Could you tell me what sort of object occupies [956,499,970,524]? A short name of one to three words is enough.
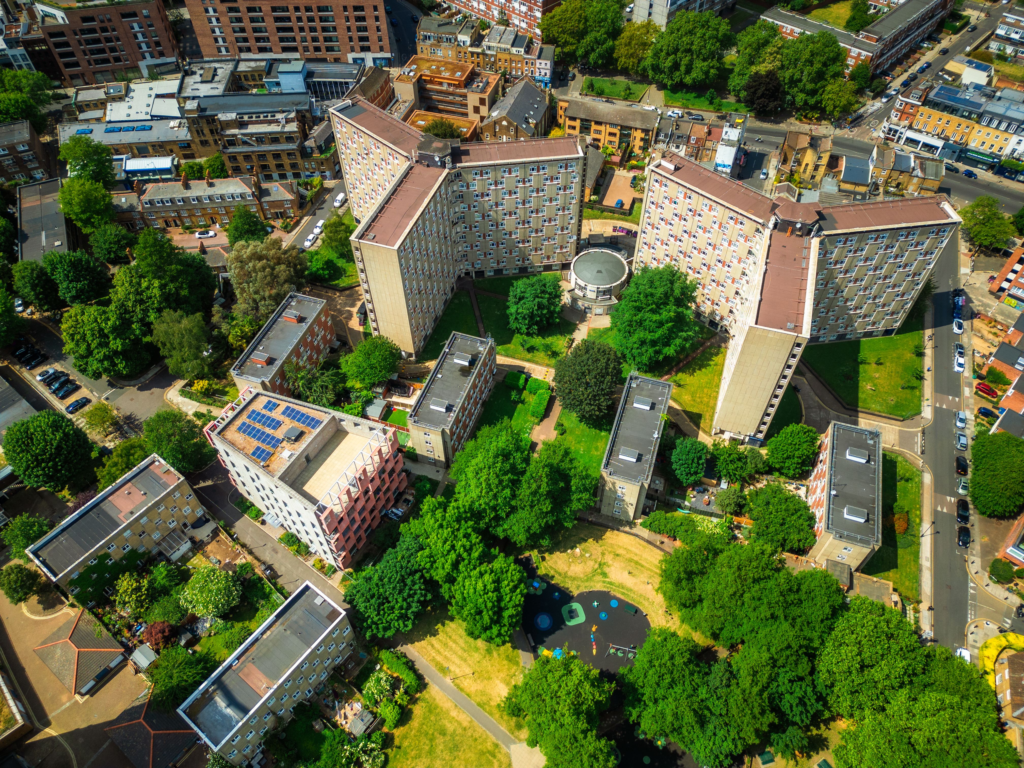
car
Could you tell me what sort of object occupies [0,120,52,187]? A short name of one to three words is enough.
building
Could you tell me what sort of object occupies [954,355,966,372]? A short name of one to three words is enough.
vehicle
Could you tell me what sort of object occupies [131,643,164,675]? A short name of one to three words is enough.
shed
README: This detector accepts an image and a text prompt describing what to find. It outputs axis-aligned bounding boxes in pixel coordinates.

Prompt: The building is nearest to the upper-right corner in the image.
[986,8,1024,59]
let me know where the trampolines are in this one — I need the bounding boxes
[390,379,410,398]
[567,608,579,619]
